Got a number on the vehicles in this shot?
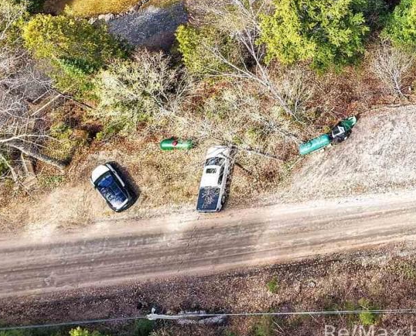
3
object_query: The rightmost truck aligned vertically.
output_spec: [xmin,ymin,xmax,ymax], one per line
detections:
[197,147,230,215]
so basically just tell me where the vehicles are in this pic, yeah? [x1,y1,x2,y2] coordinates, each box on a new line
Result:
[197,147,230,215]
[324,116,358,142]
[93,166,133,215]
